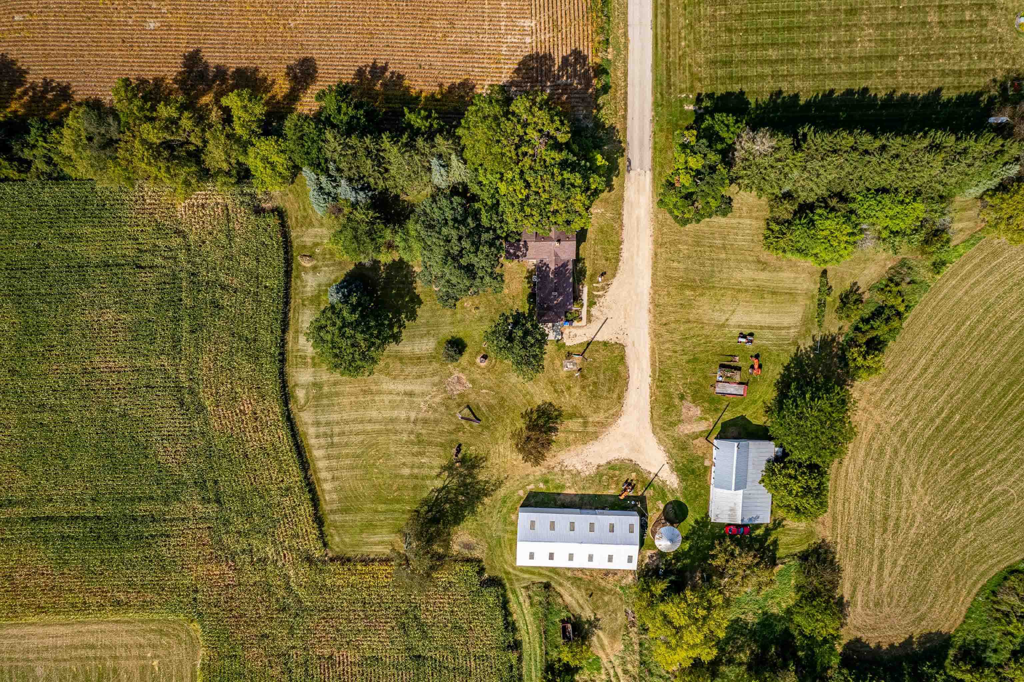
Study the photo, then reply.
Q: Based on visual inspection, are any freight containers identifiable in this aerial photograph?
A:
No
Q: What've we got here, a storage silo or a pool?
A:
storage silo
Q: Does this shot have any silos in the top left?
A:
No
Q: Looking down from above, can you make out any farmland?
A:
Yes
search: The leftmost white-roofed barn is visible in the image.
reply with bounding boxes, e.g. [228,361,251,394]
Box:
[516,508,640,570]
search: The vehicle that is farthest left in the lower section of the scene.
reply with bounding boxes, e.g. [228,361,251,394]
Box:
[618,474,636,503]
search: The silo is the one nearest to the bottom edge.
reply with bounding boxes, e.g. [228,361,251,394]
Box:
[648,517,682,553]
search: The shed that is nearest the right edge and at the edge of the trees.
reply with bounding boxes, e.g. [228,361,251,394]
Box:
[707,438,774,524]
